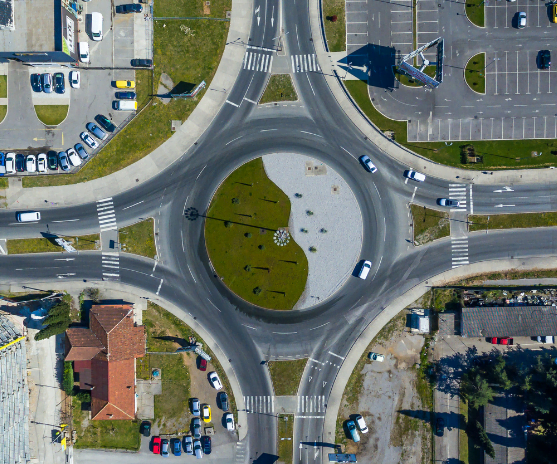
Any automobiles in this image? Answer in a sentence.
Yes, an automobile is visible in the scene.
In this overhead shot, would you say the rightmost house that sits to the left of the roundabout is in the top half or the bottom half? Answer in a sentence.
The rightmost house that sits to the left of the roundabout sits in the bottom half of the picture.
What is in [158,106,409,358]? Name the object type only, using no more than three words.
roundabout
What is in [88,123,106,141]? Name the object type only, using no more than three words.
car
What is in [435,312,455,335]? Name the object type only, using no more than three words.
shed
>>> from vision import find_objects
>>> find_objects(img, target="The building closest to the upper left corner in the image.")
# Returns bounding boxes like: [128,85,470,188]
[0,0,81,63]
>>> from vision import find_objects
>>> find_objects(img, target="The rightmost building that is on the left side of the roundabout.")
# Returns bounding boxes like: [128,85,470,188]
[65,304,147,420]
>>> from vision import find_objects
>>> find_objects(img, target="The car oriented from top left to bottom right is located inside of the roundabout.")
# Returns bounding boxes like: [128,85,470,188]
[359,154,377,172]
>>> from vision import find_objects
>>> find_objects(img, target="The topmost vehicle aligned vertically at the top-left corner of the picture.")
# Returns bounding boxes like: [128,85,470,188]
[90,10,103,42]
